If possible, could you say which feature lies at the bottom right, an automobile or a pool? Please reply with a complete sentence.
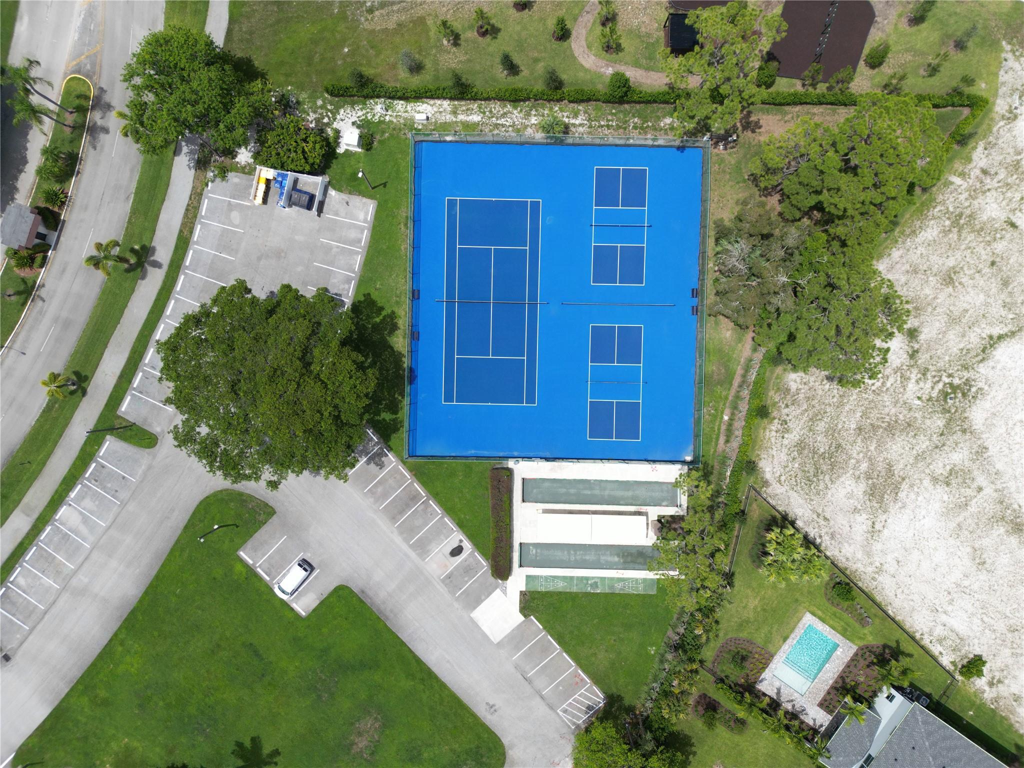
You can see a pool at the bottom right.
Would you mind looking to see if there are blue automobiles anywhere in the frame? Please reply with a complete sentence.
No, no blue automobile can be seen from above.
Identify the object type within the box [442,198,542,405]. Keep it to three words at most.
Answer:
tennis court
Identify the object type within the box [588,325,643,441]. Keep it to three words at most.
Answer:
sports court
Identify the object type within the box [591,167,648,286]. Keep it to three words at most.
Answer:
sports court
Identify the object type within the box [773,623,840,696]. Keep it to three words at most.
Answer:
swimming pool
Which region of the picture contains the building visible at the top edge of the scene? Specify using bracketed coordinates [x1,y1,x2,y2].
[663,14,702,60]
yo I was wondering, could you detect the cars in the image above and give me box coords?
[275,559,313,599]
